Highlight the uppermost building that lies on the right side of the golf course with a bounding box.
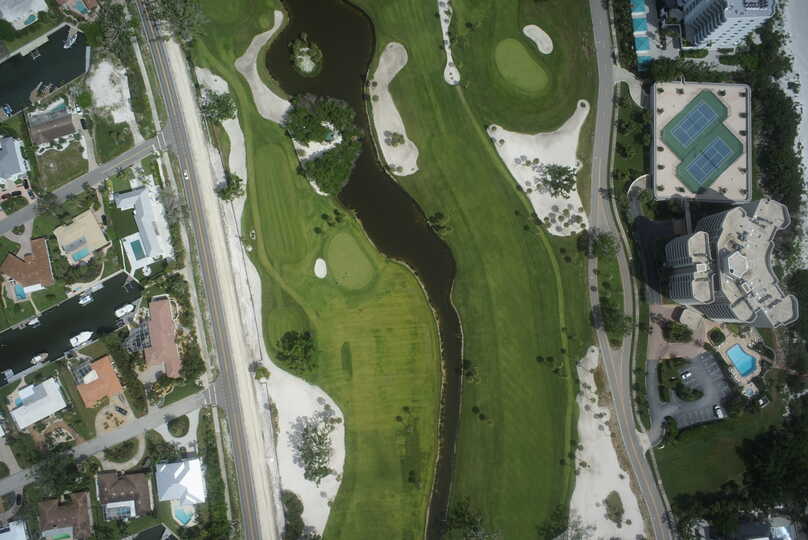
[685,0,779,44]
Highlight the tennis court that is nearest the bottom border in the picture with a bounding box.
[686,137,734,184]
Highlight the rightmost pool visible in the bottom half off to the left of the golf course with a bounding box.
[174,508,194,526]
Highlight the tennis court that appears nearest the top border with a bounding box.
[671,100,717,148]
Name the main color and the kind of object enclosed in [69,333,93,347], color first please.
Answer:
white boat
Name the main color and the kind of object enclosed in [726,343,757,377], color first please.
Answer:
blue swimming pool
